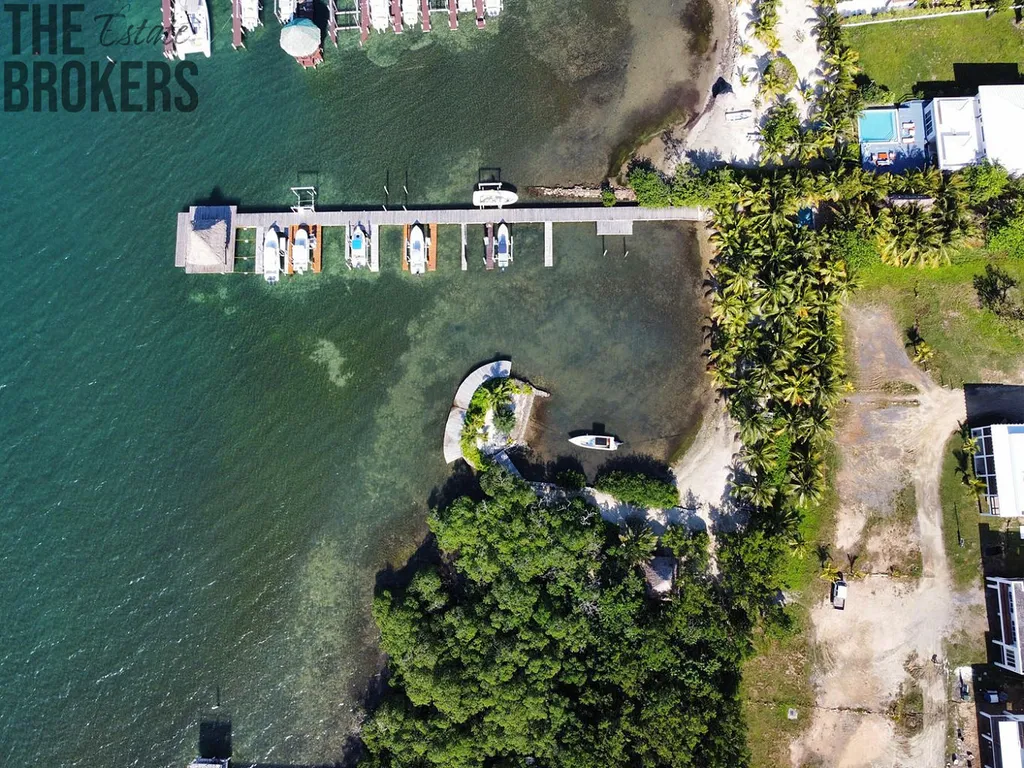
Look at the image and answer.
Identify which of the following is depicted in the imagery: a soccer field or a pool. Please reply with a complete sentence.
This aerial view contains a pool.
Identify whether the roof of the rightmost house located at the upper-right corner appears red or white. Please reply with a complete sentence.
From above, the roof of the rightmost house located at the upper-right corner appears white.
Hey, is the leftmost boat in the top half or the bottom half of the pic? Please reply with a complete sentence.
Seen from above, the leftmost boat lies in the top half of the view.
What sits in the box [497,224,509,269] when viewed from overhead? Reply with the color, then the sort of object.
white boat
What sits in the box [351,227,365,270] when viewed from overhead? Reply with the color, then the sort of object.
white boat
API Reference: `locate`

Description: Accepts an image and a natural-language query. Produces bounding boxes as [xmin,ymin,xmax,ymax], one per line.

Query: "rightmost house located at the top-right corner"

[922,83,1024,185]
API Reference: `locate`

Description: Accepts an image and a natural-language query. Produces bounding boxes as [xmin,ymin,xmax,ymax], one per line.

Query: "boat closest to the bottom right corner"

[569,435,621,452]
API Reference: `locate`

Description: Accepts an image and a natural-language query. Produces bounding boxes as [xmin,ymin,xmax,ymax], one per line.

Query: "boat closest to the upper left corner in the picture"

[174,0,214,63]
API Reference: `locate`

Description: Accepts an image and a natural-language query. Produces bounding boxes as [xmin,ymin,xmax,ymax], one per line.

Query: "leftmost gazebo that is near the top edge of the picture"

[281,0,325,71]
